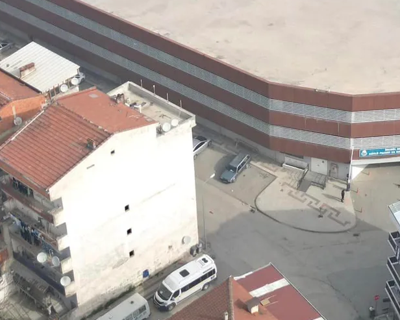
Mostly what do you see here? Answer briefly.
buildings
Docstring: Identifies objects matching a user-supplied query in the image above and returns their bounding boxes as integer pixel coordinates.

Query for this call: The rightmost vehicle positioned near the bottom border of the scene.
[153,255,211,311]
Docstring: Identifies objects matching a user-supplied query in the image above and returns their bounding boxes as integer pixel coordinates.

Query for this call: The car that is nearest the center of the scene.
[194,138,213,153]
